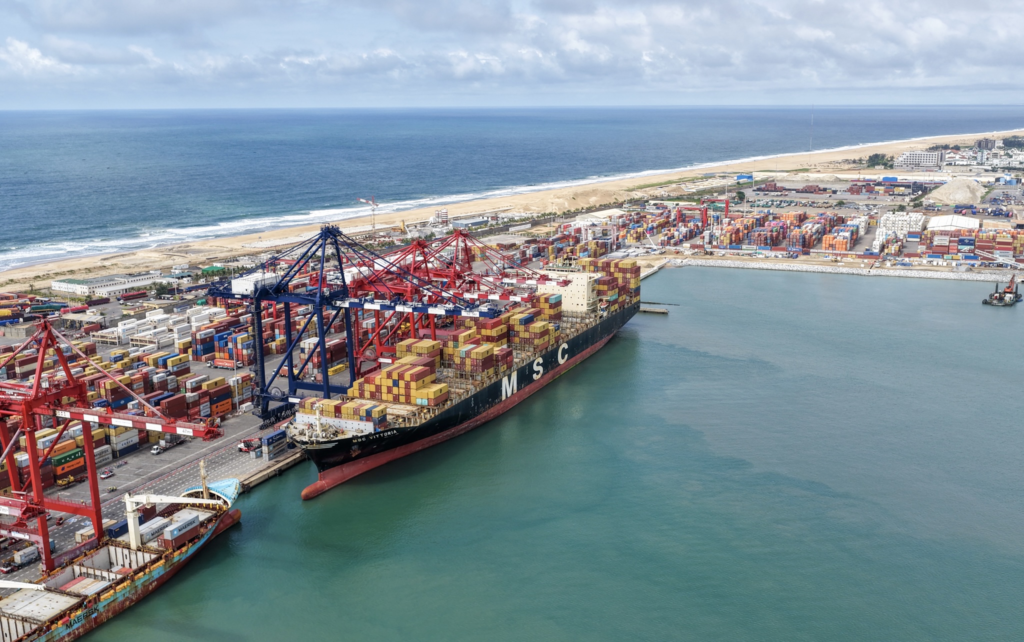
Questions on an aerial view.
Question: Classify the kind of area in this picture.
port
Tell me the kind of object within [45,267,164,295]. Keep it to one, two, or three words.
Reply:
building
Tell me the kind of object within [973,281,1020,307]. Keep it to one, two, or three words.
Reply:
ship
